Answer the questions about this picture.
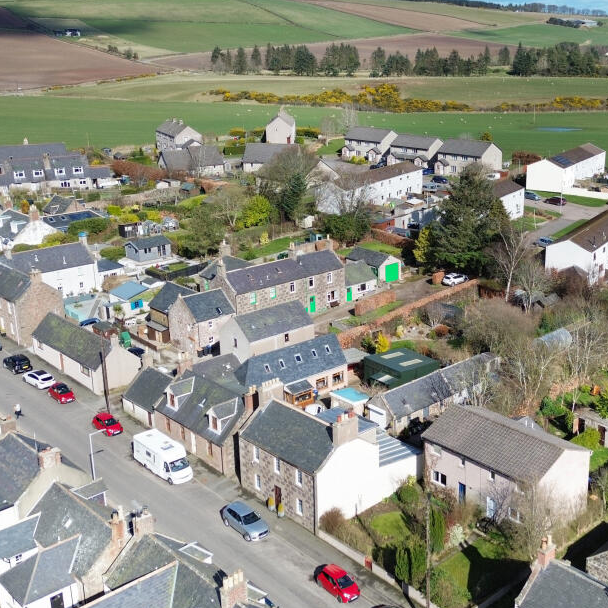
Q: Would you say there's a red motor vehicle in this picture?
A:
Yes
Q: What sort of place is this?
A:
residential area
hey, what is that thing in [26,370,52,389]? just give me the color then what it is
white car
